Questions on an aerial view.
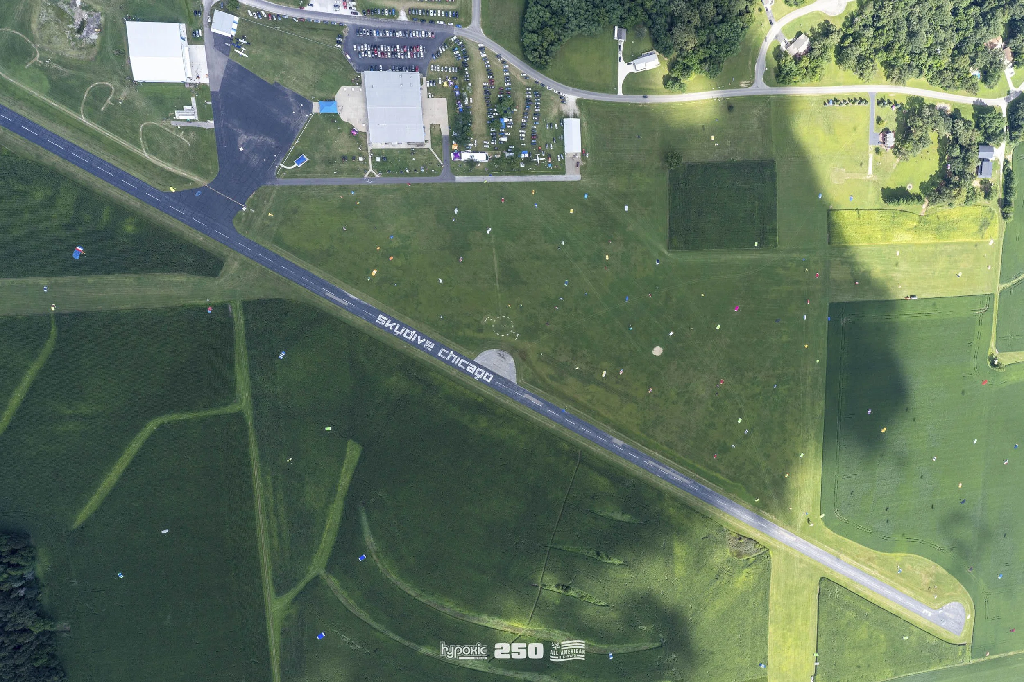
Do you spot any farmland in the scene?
Yes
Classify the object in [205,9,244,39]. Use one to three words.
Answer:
hangar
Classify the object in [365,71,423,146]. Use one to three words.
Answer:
building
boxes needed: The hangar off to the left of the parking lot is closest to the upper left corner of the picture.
[126,21,196,84]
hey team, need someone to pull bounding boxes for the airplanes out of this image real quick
[230,39,241,49]
[234,33,250,45]
[532,152,546,165]
[233,47,247,58]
